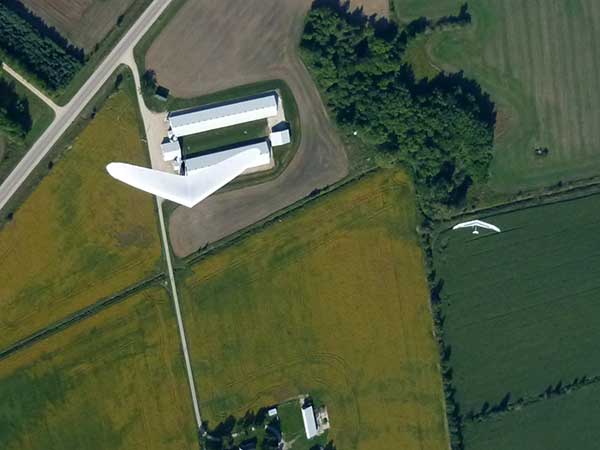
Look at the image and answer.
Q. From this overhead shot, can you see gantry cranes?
No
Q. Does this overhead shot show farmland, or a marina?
farmland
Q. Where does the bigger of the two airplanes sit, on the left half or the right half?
left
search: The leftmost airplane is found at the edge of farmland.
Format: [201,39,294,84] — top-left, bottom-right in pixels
[105,146,265,208]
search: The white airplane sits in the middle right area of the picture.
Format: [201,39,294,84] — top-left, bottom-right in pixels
[452,220,500,233]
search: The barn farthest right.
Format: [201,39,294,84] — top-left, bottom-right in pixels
[302,407,318,439]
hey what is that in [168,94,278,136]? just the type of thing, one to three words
barn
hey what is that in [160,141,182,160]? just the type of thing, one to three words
barn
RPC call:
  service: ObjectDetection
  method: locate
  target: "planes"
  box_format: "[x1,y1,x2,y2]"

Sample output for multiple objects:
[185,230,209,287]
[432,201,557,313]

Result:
[452,220,500,233]
[105,146,265,208]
